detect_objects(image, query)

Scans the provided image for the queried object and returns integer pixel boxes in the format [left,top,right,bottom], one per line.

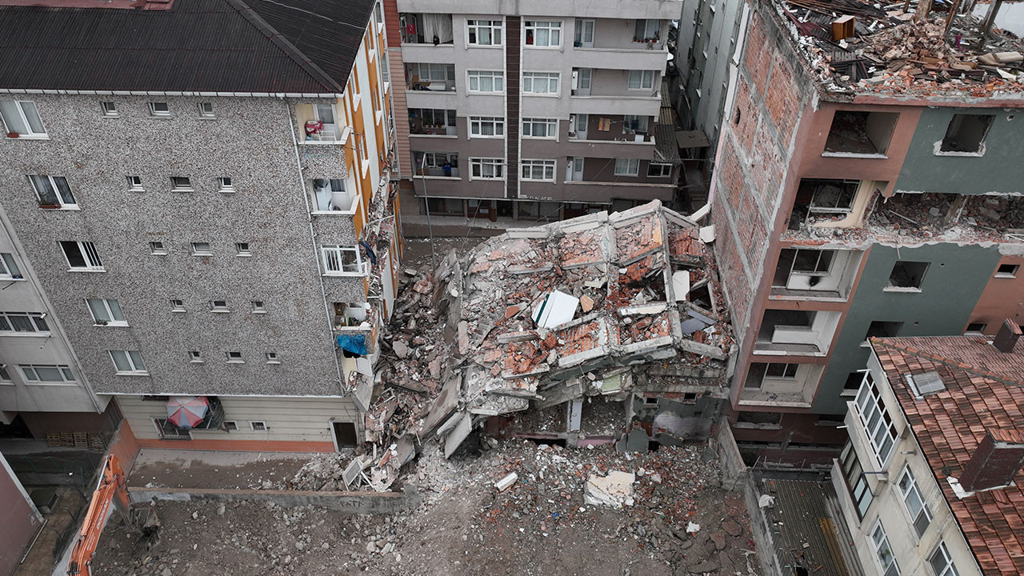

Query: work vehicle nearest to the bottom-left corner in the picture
[71,454,166,576]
